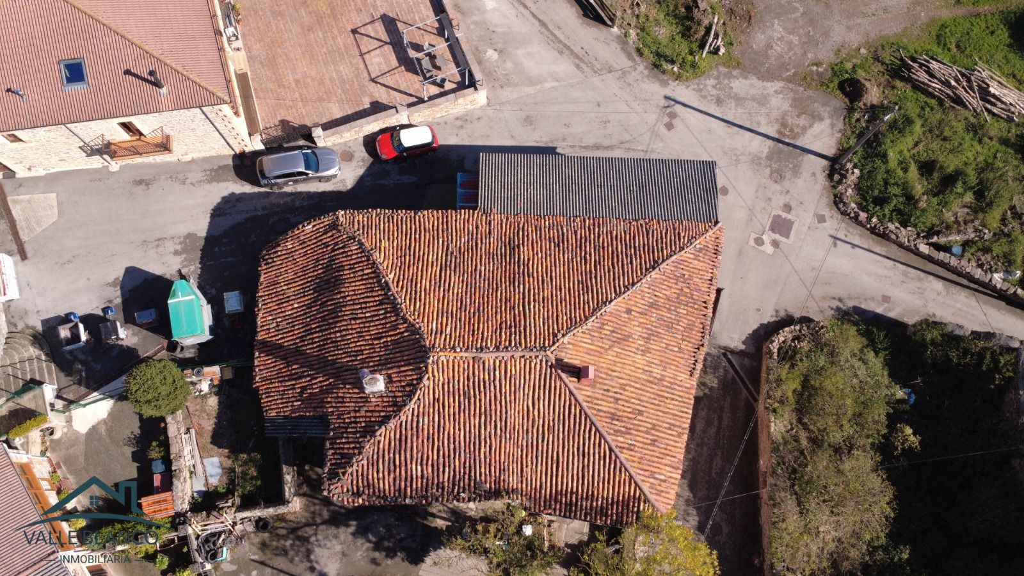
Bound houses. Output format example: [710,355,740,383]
[0,0,250,182]
[0,442,114,576]
[250,208,726,535]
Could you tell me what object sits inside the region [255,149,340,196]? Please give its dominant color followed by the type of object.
gray car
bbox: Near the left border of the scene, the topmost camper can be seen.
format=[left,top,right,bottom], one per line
[0,253,29,307]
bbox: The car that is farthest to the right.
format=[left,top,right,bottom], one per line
[376,124,441,166]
